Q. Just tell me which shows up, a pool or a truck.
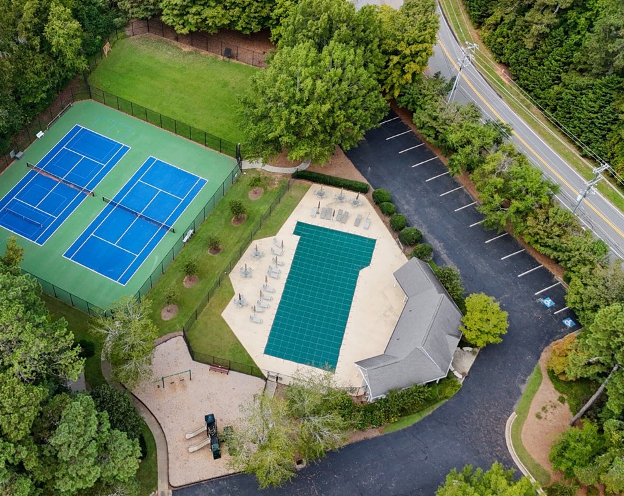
pool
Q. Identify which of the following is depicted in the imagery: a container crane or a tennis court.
tennis court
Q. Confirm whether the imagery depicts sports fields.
Yes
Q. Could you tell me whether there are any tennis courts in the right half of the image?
No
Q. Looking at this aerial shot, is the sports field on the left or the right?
left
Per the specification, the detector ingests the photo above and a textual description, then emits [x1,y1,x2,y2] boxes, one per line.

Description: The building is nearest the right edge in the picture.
[354,258,462,403]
